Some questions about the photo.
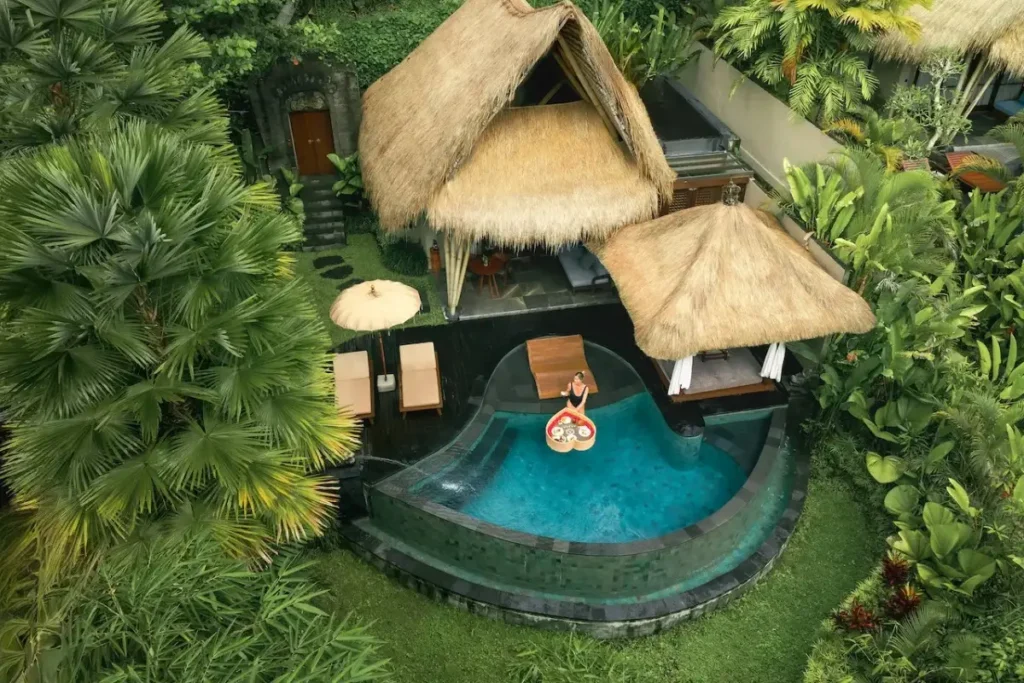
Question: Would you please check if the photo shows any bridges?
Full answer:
No, the scene contains no bridge.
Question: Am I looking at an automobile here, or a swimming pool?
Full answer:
There is a swimming pool in the scene.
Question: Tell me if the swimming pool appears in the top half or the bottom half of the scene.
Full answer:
The bottom half of the photo is where the swimming pool is.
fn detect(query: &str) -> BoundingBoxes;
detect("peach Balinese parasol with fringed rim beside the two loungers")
[328,273,422,389]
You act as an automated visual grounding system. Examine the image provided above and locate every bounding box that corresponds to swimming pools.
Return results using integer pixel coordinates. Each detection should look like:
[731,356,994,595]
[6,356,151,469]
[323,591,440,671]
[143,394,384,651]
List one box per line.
[337,336,810,637]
